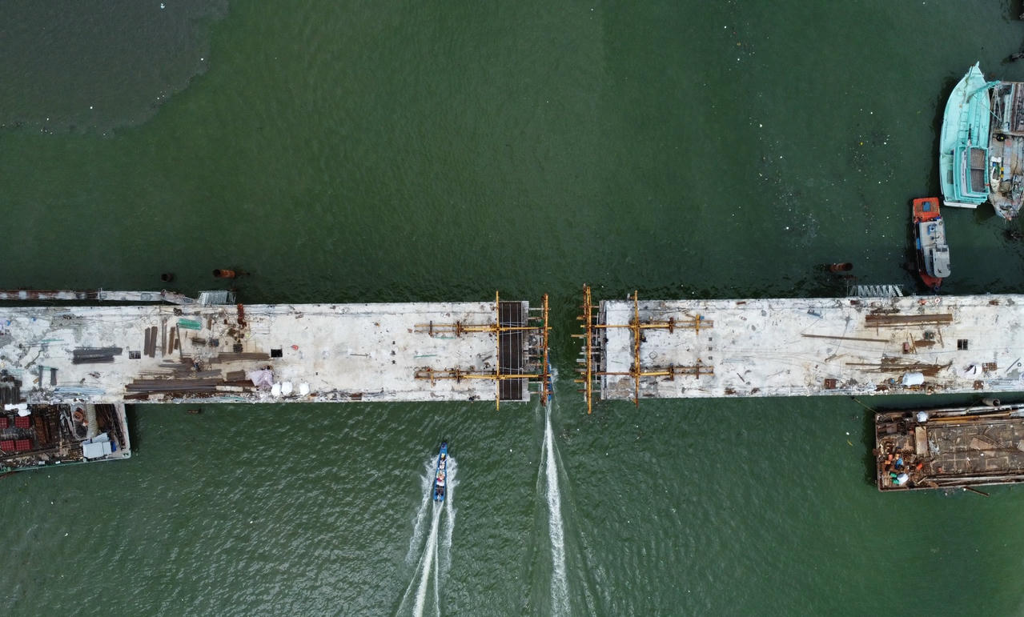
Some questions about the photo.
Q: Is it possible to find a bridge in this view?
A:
Yes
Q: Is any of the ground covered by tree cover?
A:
No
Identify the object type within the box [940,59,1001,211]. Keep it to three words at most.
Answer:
boat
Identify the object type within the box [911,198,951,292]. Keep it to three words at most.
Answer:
boat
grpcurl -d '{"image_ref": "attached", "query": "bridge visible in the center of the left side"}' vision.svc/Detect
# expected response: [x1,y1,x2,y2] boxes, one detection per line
[0,301,529,404]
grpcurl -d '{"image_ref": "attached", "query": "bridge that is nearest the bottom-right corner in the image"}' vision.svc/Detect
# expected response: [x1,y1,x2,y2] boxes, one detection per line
[600,294,1024,399]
